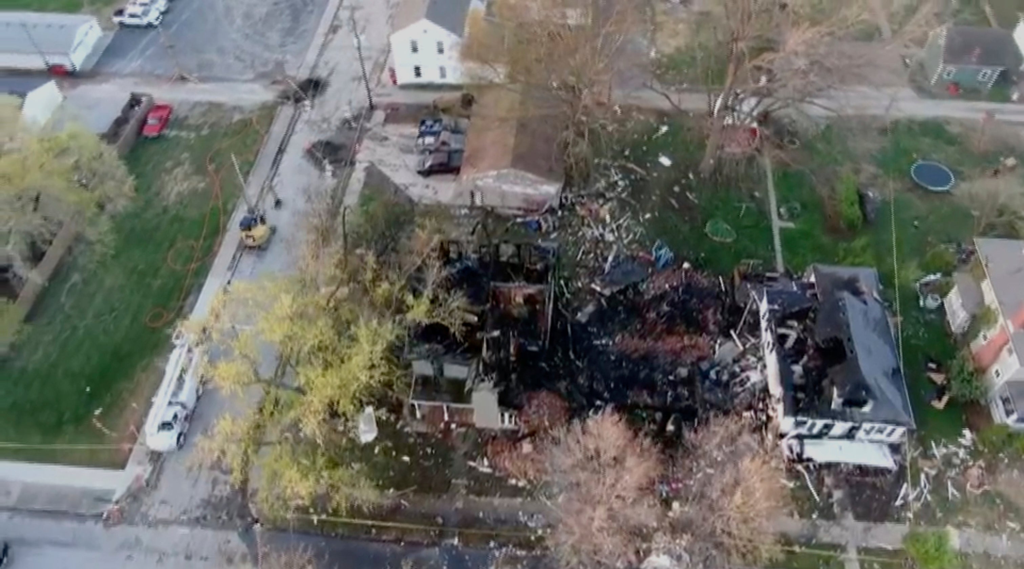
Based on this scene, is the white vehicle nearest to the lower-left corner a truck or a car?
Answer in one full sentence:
The white vehicle nearest to the lower-left corner is a truck.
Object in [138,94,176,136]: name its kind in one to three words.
truck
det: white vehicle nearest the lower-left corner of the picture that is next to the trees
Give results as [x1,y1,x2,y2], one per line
[140,315,208,447]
